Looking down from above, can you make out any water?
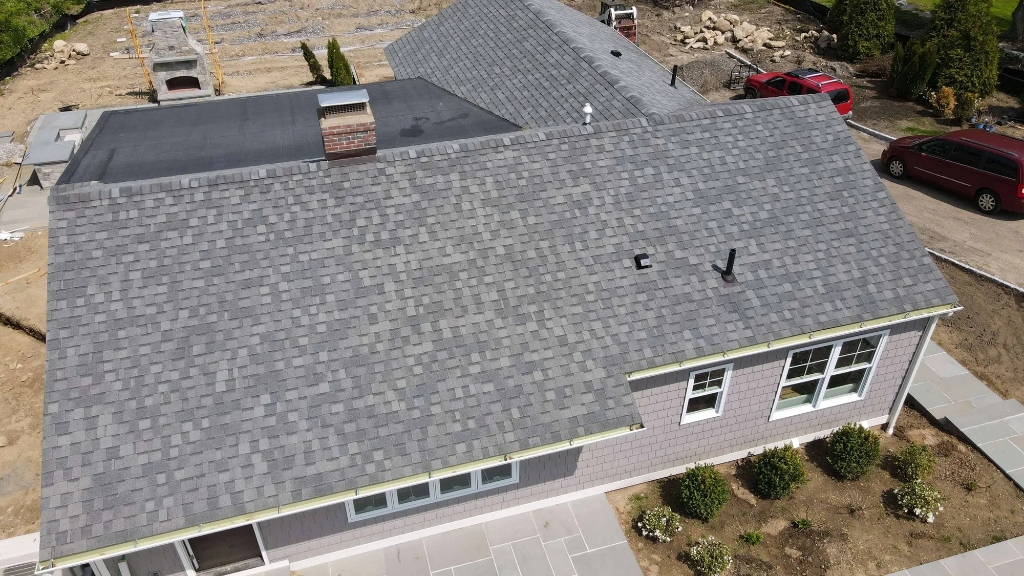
No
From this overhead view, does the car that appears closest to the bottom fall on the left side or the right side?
right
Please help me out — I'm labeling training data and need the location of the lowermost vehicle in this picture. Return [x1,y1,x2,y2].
[877,132,1024,218]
